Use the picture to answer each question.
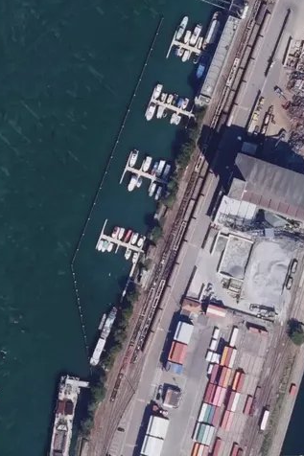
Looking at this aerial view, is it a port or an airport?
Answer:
port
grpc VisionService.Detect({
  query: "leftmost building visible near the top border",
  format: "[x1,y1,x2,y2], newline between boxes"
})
[201,16,240,99]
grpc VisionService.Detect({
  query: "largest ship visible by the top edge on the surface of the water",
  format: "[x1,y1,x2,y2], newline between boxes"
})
[202,11,221,49]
